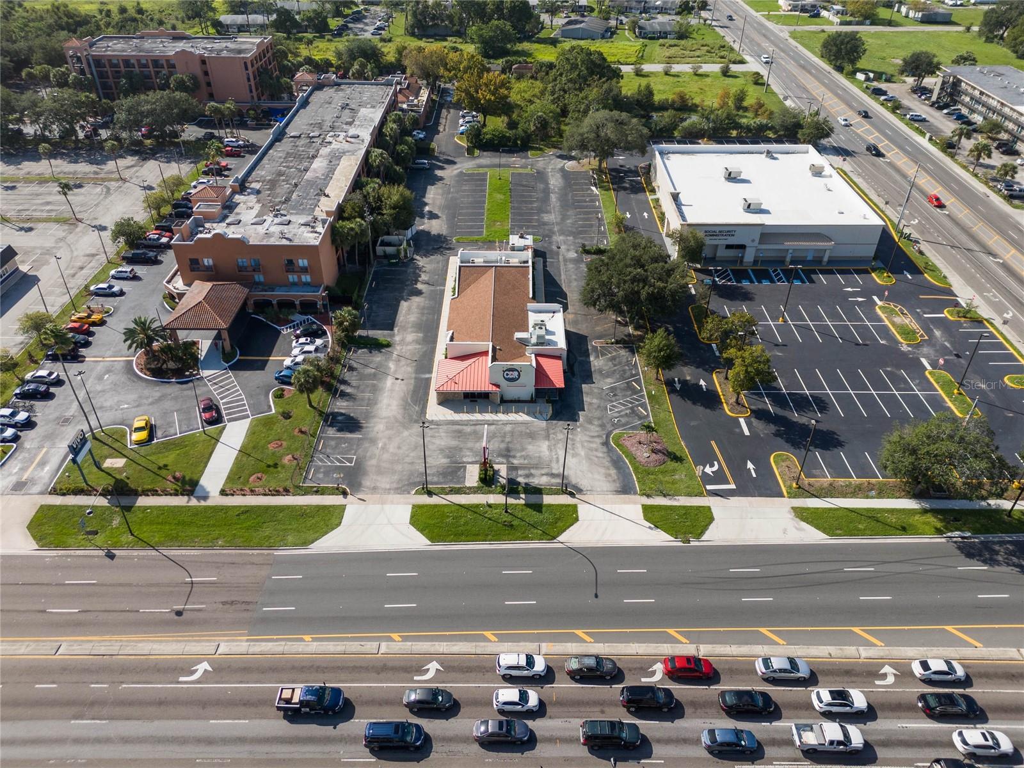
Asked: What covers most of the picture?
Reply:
paved ground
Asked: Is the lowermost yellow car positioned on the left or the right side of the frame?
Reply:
left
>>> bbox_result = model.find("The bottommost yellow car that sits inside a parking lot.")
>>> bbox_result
[128,414,153,441]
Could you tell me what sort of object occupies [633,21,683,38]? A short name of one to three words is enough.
house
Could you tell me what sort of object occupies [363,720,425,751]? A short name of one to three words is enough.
vehicle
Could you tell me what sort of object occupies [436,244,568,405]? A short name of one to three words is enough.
building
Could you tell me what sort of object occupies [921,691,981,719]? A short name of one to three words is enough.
car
